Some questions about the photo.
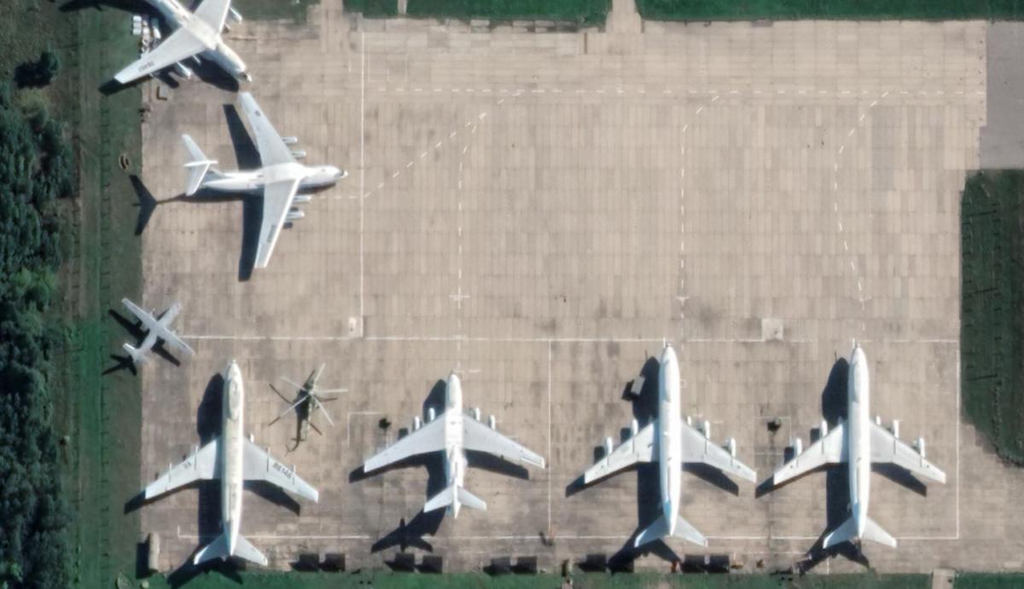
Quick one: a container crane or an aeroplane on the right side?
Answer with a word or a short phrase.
aeroplane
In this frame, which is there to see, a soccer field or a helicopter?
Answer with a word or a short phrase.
helicopter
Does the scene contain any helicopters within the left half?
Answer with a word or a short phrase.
Yes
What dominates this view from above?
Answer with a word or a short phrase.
paved ground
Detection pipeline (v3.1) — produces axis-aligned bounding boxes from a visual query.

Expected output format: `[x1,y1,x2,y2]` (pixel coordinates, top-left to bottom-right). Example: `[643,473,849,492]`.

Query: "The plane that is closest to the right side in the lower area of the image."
[773,335,946,549]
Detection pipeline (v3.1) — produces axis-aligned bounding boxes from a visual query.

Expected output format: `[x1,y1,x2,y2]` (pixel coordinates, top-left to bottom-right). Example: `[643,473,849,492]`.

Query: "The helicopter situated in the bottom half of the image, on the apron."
[279,361,347,438]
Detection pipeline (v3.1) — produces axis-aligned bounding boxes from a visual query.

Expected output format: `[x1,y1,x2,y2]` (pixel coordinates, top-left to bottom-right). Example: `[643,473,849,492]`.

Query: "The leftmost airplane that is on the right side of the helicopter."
[368,369,544,517]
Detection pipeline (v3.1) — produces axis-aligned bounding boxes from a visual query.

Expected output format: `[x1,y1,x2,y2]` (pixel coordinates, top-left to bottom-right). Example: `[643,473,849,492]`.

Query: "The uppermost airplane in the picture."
[115,0,250,82]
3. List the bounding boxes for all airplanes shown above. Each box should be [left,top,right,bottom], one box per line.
[773,335,946,549]
[145,359,318,565]
[368,369,544,517]
[585,334,757,548]
[180,90,347,266]
[123,297,197,366]
[115,0,250,82]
